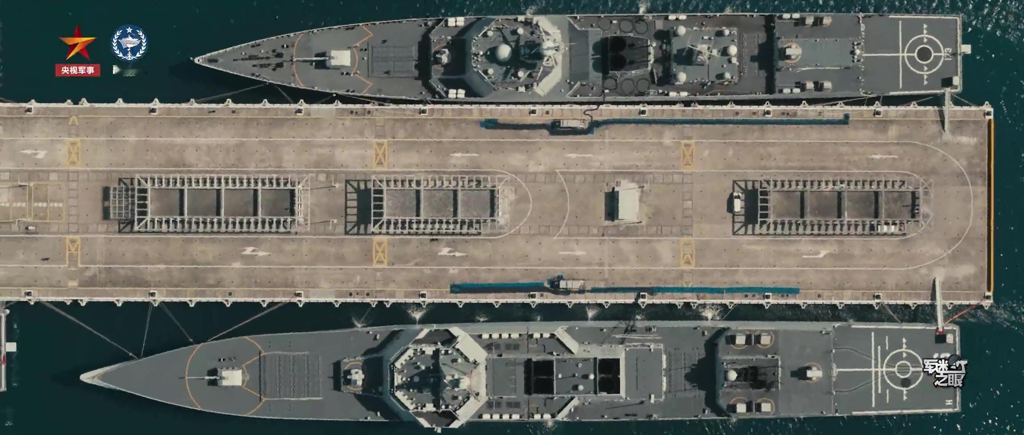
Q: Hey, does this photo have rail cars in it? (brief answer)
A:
No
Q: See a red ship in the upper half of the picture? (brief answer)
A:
No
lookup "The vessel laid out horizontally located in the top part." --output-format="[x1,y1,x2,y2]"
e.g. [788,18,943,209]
[190,13,972,103]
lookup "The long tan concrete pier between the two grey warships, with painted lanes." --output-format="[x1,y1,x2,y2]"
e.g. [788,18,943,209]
[0,99,993,310]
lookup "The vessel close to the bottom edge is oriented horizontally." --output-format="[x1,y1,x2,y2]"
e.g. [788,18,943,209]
[80,320,959,433]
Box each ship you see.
[0,309,17,390]
[80,320,959,433]
[190,13,972,103]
